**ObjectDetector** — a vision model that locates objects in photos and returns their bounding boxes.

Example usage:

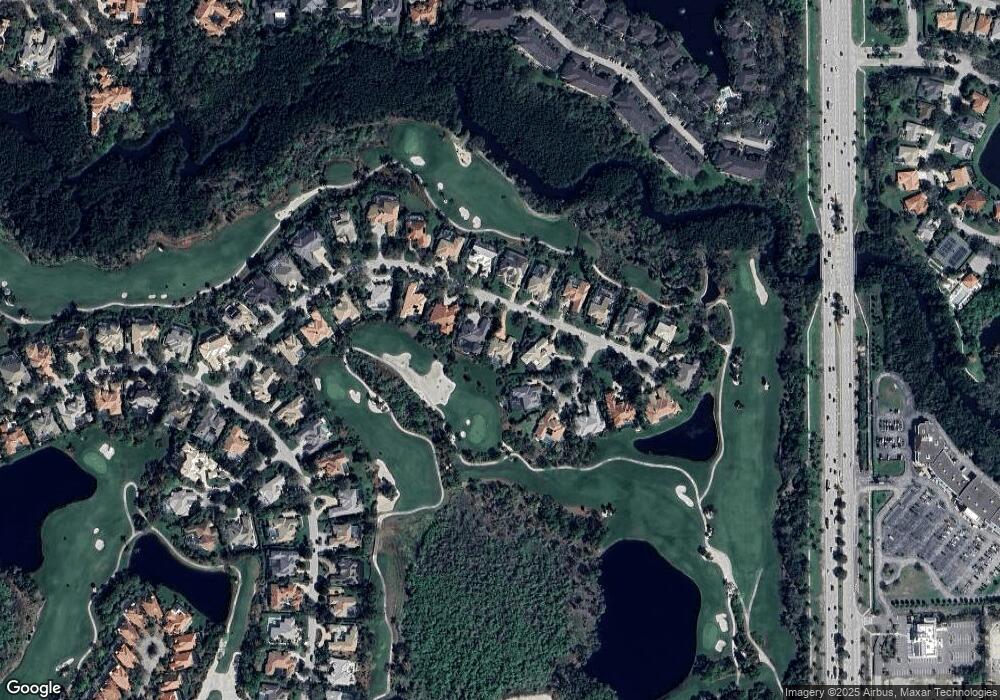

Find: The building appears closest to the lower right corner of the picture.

[908,618,947,658]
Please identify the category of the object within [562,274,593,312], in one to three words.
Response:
house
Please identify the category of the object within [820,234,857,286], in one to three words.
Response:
bridge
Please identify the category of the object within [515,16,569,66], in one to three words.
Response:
building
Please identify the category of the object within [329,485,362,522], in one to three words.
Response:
house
